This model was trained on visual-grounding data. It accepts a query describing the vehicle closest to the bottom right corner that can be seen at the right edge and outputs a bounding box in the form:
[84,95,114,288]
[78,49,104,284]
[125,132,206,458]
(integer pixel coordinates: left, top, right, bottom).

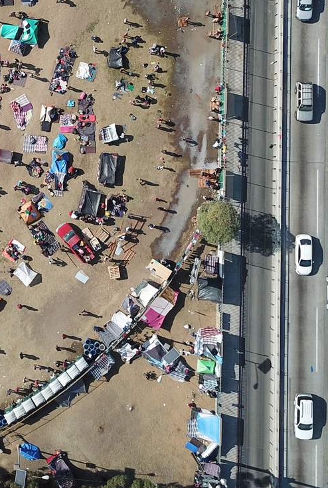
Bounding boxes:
[292,391,316,439]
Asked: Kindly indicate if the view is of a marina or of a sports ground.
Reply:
sports ground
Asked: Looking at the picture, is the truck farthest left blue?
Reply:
No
